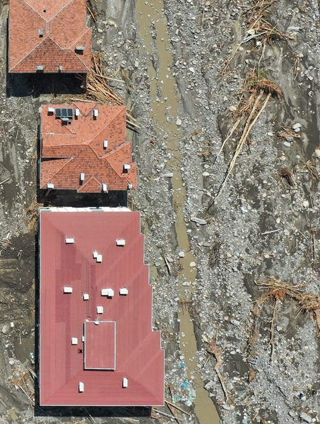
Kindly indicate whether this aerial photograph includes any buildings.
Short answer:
Yes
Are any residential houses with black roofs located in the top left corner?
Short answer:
No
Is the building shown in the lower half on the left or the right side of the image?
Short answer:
left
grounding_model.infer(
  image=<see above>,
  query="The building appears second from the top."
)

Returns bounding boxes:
[39,103,137,192]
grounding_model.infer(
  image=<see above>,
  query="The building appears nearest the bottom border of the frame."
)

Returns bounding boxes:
[38,200,165,407]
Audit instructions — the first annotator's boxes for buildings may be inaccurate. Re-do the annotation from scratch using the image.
[38,200,165,407]
[39,103,137,192]
[8,0,92,73]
